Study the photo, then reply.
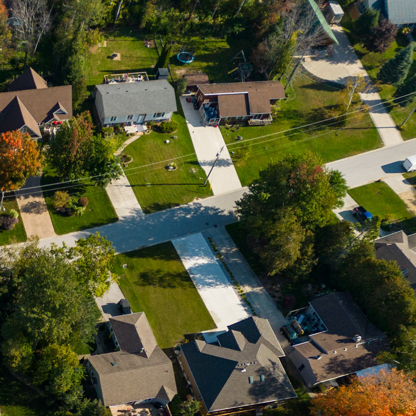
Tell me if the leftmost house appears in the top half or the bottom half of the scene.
top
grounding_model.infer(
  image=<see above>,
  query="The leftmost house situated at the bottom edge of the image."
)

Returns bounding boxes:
[85,312,178,415]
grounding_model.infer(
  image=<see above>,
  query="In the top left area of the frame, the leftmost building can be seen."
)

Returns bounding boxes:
[0,56,73,148]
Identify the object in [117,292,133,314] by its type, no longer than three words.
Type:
car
